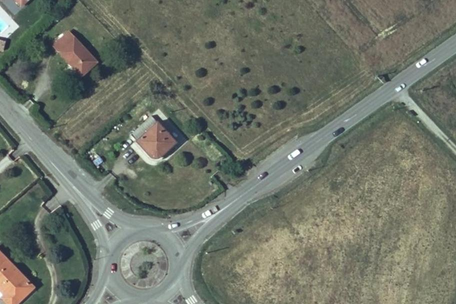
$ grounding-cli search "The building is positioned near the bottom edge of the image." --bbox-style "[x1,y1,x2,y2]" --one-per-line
[0,251,35,304]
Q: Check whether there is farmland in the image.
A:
Yes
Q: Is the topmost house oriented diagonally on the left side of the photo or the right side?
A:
left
